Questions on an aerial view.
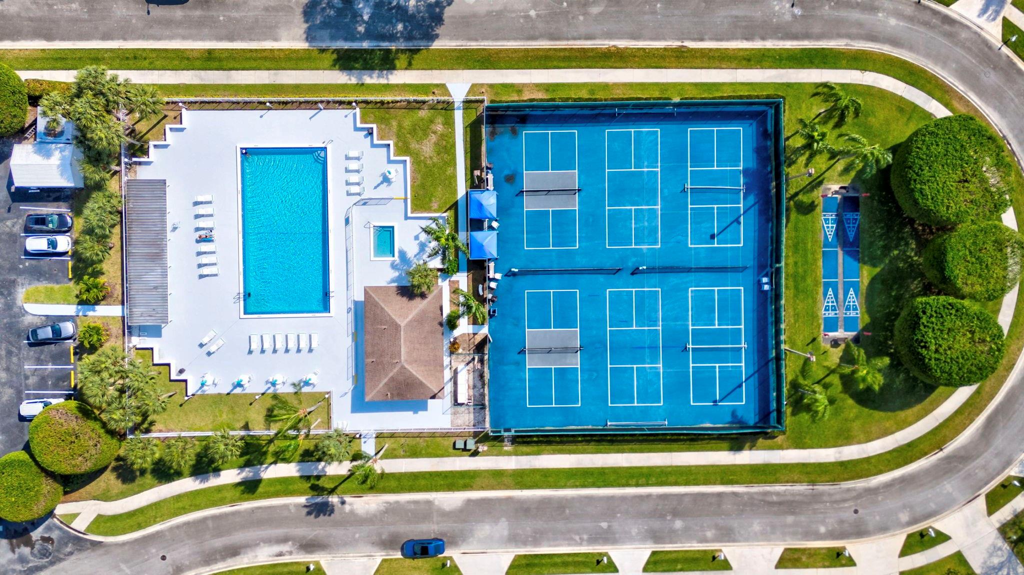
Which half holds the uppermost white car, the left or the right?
left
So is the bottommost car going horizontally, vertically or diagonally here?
horizontally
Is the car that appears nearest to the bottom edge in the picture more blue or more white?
blue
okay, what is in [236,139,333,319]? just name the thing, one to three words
swimming pool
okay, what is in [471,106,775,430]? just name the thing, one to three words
tennis court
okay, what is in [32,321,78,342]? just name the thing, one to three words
car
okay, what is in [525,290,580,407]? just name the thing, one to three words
sports court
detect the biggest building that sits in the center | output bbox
[363,285,445,402]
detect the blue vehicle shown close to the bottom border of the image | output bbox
[402,537,444,558]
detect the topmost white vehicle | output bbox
[29,234,73,254]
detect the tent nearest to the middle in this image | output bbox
[470,230,498,260]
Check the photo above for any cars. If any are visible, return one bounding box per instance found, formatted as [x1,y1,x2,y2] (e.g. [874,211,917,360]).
[32,321,78,342]
[25,398,71,417]
[28,213,75,233]
[402,537,444,558]
[29,234,73,254]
